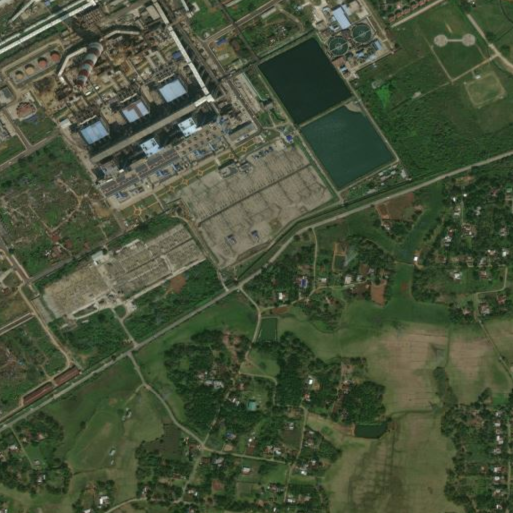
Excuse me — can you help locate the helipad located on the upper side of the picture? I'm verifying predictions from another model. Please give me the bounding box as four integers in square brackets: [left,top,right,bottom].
[434,34,475,47]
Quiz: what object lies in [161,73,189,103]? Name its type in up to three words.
building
